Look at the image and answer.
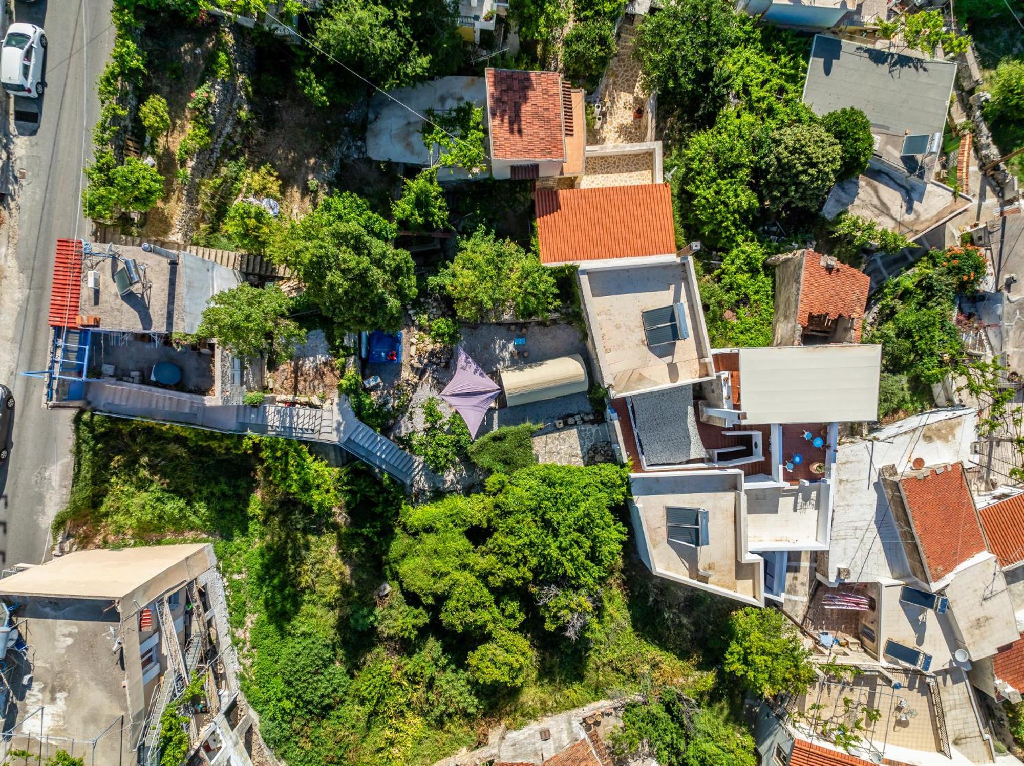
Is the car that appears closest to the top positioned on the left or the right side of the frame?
left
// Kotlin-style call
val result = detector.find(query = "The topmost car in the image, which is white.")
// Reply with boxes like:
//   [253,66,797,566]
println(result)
[0,23,46,97]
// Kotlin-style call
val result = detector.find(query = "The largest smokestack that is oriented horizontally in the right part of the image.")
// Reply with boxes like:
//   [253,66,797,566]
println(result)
[696,400,749,427]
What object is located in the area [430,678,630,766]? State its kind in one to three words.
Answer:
house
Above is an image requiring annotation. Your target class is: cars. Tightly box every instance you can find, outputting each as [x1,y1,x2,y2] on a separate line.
[0,392,13,462]
[0,23,46,97]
